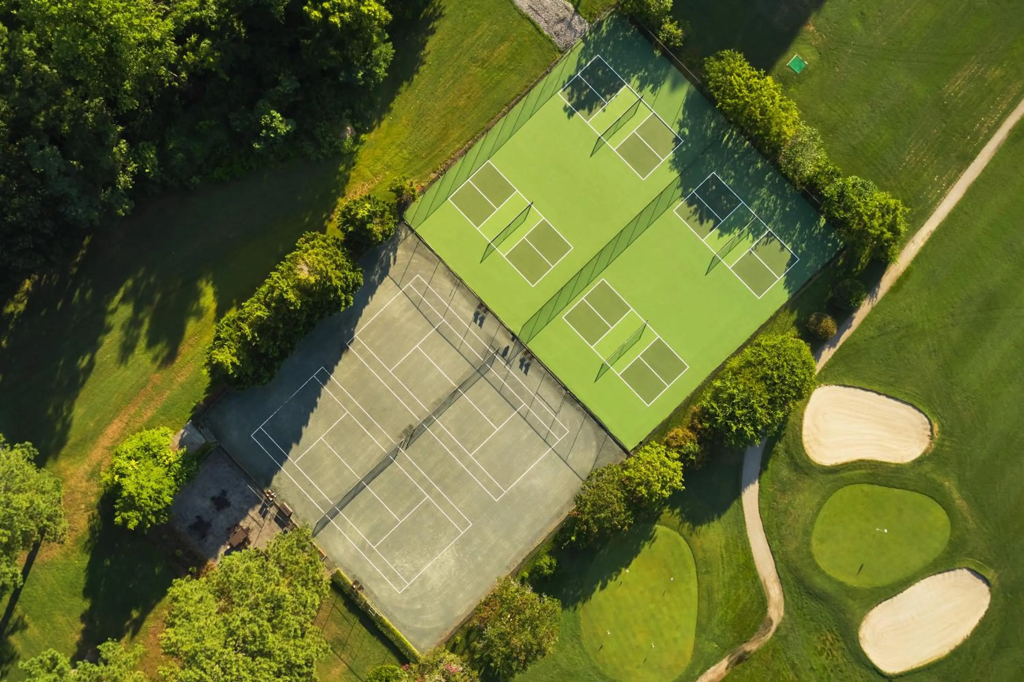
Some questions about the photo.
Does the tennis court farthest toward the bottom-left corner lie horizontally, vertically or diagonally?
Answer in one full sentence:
The tennis court farthest toward the bottom-left corner has been laid out diagonally relative to the frame.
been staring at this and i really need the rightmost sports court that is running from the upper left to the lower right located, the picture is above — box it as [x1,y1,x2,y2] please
[673,172,800,299]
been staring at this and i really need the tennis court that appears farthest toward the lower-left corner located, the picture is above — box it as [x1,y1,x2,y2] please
[251,367,472,594]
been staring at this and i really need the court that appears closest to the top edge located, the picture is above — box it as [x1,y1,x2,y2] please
[558,54,684,180]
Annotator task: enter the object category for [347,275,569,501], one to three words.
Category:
tennis court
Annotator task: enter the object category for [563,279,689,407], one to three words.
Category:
sports court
